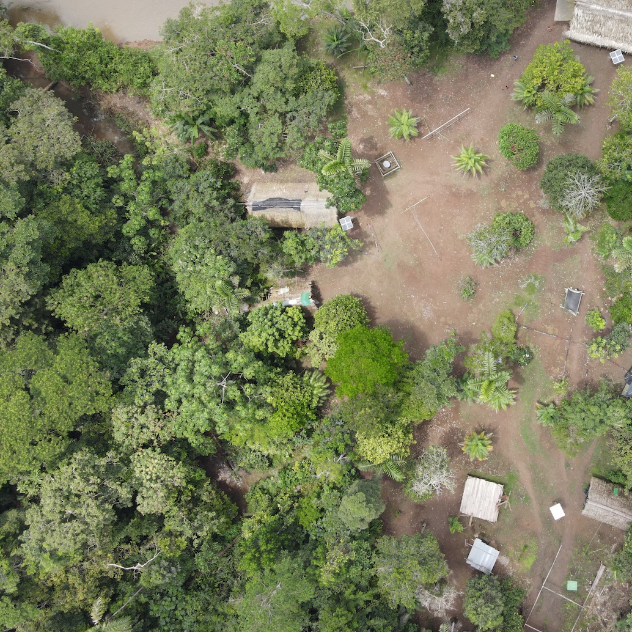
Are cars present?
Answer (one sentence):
No, there is no car in the image.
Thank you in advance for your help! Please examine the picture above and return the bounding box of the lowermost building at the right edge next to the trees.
[581,473,632,530]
